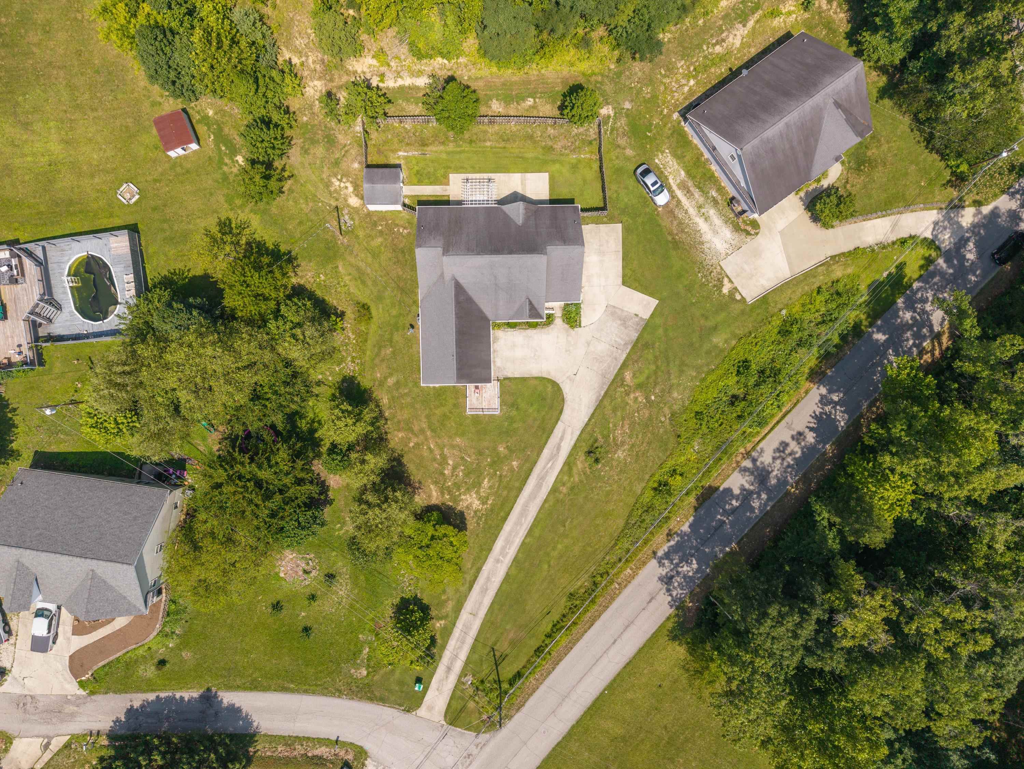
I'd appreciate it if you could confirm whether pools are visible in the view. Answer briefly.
Yes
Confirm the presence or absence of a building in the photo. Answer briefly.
Yes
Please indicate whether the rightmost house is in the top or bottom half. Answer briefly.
top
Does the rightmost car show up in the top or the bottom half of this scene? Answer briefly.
top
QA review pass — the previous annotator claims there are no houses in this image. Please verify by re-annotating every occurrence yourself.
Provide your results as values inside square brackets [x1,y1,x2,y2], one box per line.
[0,468,181,621]
[415,201,584,386]
[686,30,874,217]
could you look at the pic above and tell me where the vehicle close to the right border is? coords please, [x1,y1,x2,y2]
[989,225,1024,267]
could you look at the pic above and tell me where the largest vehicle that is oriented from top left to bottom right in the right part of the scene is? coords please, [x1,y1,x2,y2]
[634,164,669,210]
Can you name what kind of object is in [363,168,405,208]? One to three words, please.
shed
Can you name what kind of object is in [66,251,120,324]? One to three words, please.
swimming pool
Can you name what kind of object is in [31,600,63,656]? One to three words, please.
truck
